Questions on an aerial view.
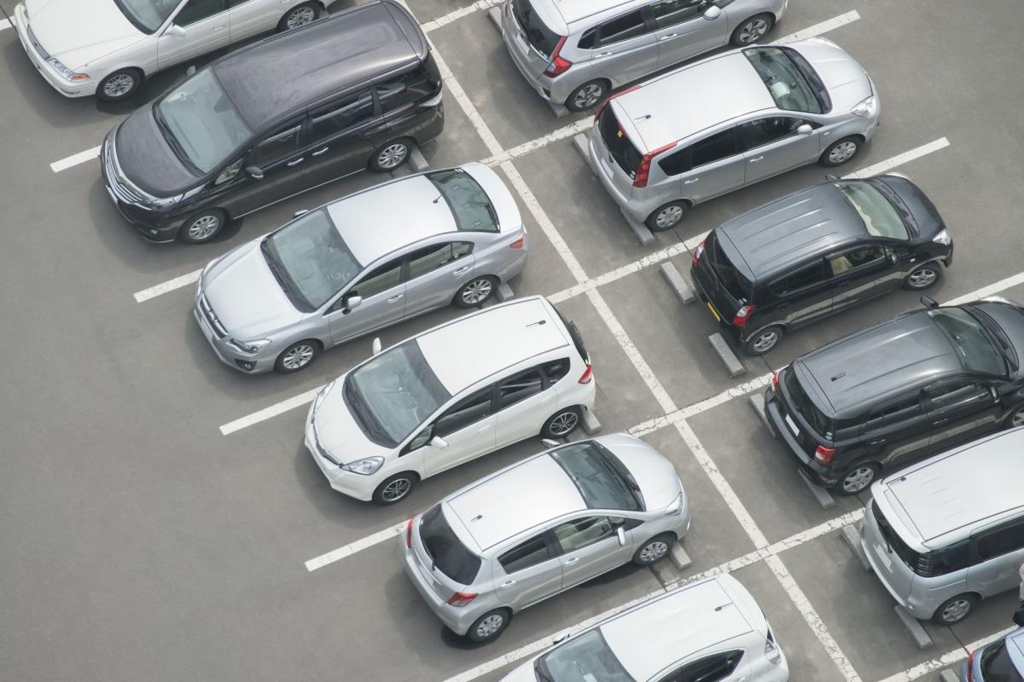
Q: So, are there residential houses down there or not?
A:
No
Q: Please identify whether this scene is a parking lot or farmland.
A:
parking lot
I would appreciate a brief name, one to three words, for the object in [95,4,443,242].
car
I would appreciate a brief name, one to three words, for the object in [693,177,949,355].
car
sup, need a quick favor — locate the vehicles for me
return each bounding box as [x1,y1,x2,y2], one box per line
[969,625,1024,682]
[860,426,1024,626]
[505,0,786,108]
[17,0,344,101]
[693,177,949,355]
[764,297,1024,494]
[197,157,532,371]
[586,43,873,230]
[302,290,599,503]
[95,4,443,242]
[492,573,786,682]
[406,435,692,639]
